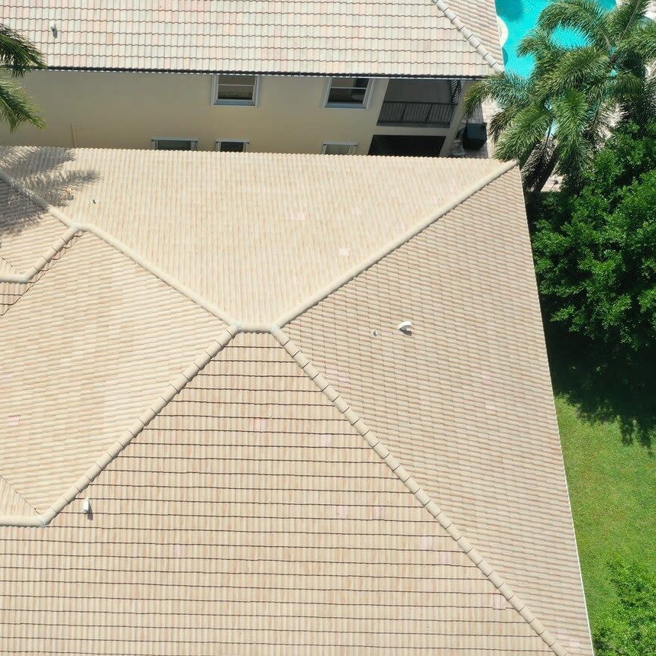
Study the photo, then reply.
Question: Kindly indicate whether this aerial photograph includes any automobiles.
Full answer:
No, this view has no automobile in it.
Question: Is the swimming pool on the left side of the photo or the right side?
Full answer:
It is on the right.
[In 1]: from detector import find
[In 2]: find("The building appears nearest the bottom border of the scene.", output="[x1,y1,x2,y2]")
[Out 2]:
[0,143,594,656]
